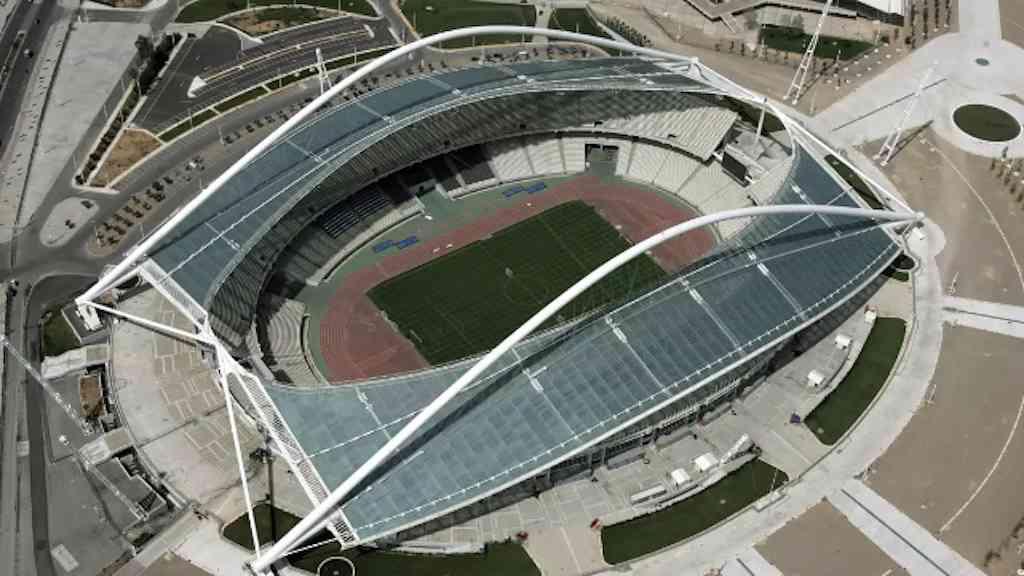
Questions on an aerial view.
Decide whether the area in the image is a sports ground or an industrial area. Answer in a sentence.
This image shows a sports ground.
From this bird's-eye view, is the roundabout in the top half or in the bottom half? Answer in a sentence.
The top half of the photo is where the roundabout is.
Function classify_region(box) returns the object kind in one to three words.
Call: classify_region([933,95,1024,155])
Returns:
roundabout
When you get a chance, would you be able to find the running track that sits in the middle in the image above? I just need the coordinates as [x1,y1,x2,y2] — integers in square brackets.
[288,152,722,385]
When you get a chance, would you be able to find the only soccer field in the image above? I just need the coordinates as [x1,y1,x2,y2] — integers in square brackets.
[367,199,672,369]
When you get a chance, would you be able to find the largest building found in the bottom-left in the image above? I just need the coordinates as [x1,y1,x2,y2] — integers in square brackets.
[83,449,167,511]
